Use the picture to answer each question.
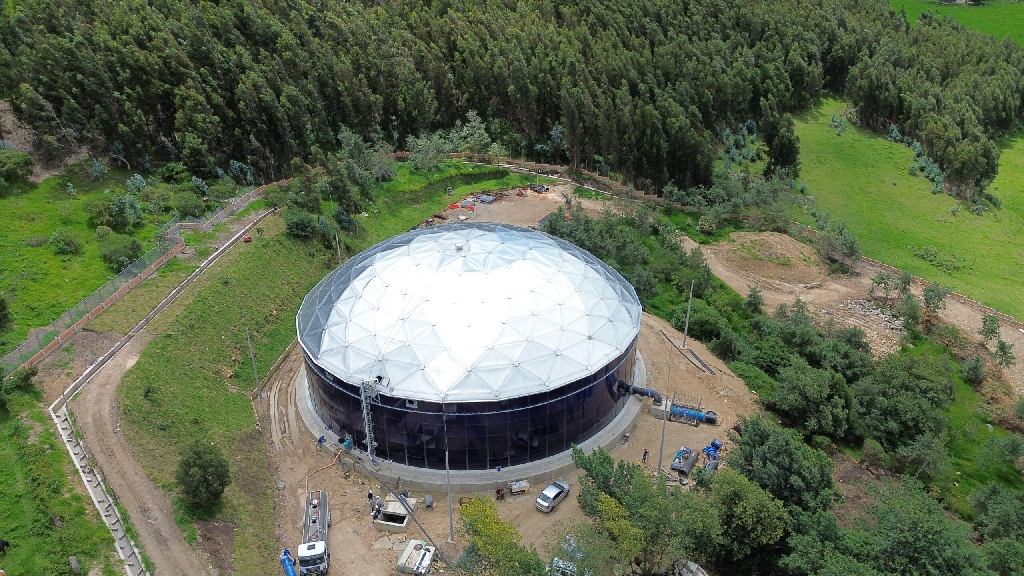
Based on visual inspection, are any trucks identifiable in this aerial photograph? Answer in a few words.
Yes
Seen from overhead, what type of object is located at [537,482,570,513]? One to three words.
car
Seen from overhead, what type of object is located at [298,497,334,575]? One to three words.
truck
